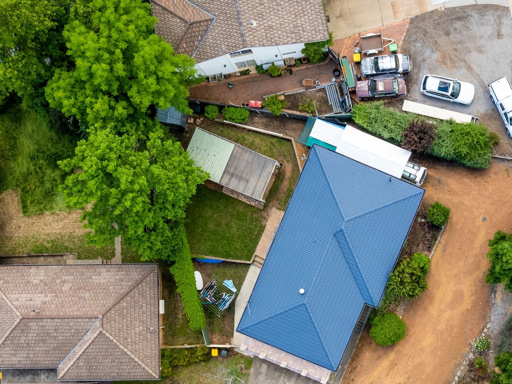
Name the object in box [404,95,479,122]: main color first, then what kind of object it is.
white trailer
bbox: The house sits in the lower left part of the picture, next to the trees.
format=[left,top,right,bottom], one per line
[0,262,170,384]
